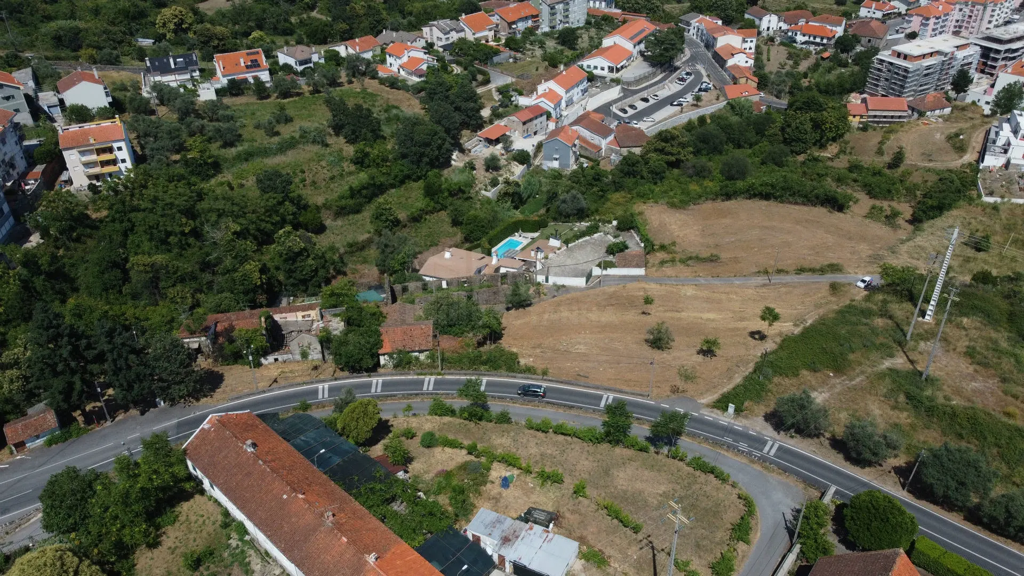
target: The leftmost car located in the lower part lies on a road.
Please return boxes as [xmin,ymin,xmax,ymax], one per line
[517,384,547,400]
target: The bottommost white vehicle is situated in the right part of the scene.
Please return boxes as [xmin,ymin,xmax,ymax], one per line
[855,273,876,288]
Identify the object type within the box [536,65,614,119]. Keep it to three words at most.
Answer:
house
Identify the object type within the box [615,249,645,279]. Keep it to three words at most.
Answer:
building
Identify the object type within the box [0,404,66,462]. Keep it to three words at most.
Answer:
house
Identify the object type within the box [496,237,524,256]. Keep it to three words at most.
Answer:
swimming pool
